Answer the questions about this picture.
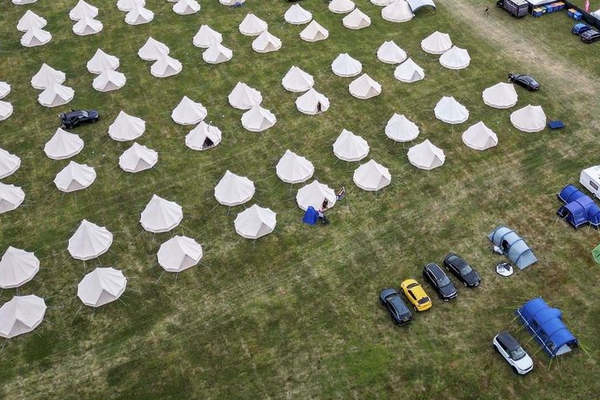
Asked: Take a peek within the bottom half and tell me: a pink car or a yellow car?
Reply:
yellow car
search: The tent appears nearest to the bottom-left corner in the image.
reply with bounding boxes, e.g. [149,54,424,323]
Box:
[0,289,57,345]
